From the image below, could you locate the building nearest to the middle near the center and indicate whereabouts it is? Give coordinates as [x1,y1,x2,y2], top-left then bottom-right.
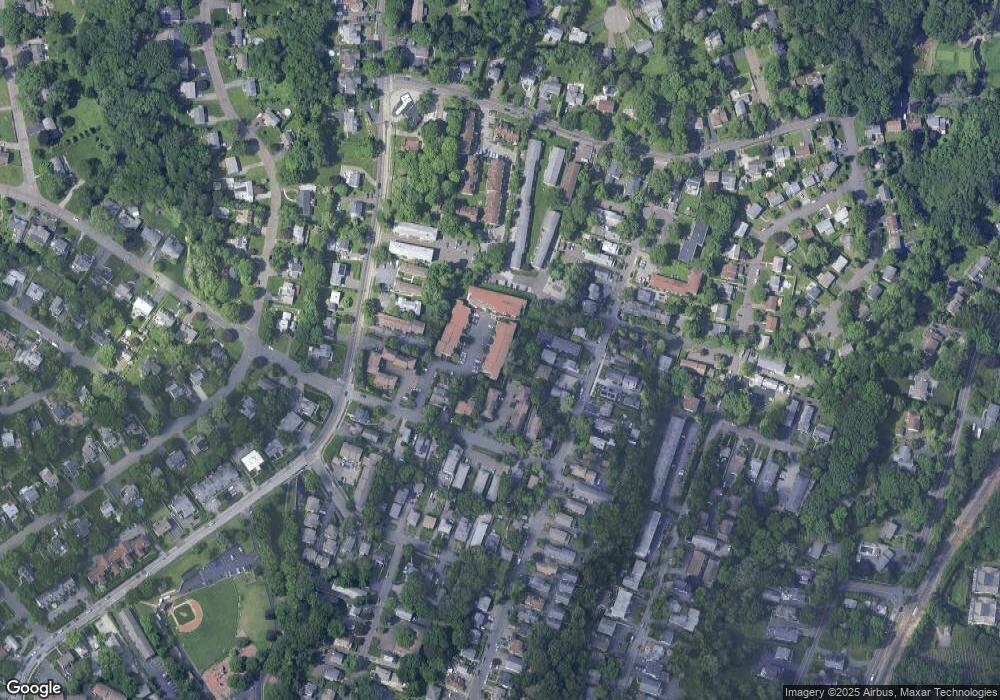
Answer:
[481,322,514,380]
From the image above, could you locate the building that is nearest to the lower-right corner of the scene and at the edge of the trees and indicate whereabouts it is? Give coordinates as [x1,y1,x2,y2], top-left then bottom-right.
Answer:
[967,595,996,626]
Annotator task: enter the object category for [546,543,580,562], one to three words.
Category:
house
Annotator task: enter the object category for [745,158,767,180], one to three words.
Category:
house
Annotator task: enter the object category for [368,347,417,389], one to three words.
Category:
building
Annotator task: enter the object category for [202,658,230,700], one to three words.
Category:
playground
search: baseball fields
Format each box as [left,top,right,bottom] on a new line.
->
[168,577,239,673]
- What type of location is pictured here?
residential area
